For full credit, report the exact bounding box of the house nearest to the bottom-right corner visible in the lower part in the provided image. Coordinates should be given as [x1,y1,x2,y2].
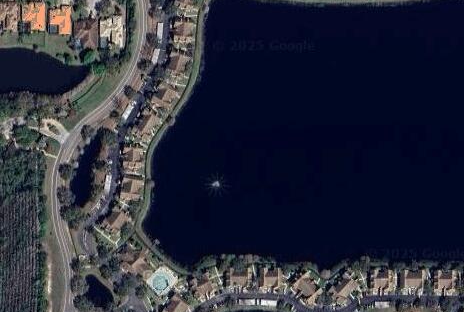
[434,269,457,295]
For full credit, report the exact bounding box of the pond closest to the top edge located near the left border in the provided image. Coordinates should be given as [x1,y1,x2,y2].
[0,45,89,94]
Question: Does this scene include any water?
Yes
